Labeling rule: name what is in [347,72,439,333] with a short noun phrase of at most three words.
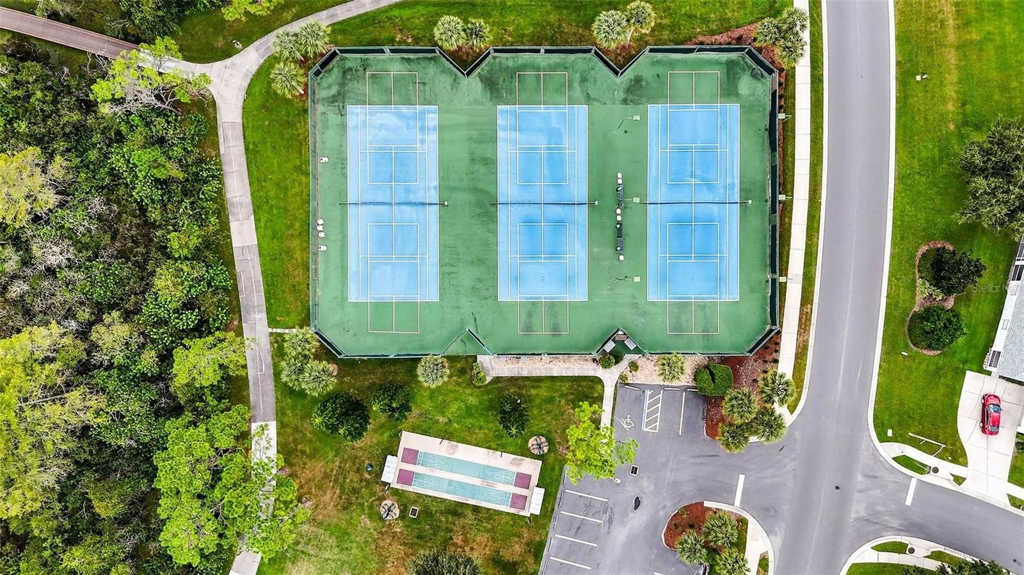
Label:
tennis court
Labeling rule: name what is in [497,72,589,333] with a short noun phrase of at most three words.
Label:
tennis court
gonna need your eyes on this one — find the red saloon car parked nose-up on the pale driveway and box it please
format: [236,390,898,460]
[981,396,1005,436]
